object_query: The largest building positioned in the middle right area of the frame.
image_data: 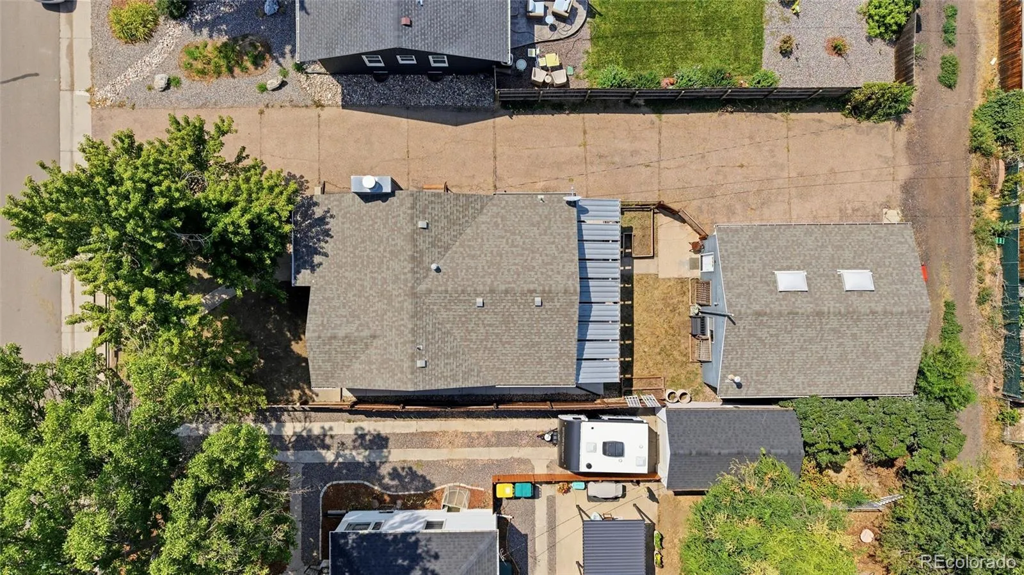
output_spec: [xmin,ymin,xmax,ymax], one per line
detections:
[700,222,931,400]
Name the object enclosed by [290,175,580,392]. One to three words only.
house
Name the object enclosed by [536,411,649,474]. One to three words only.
trailer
